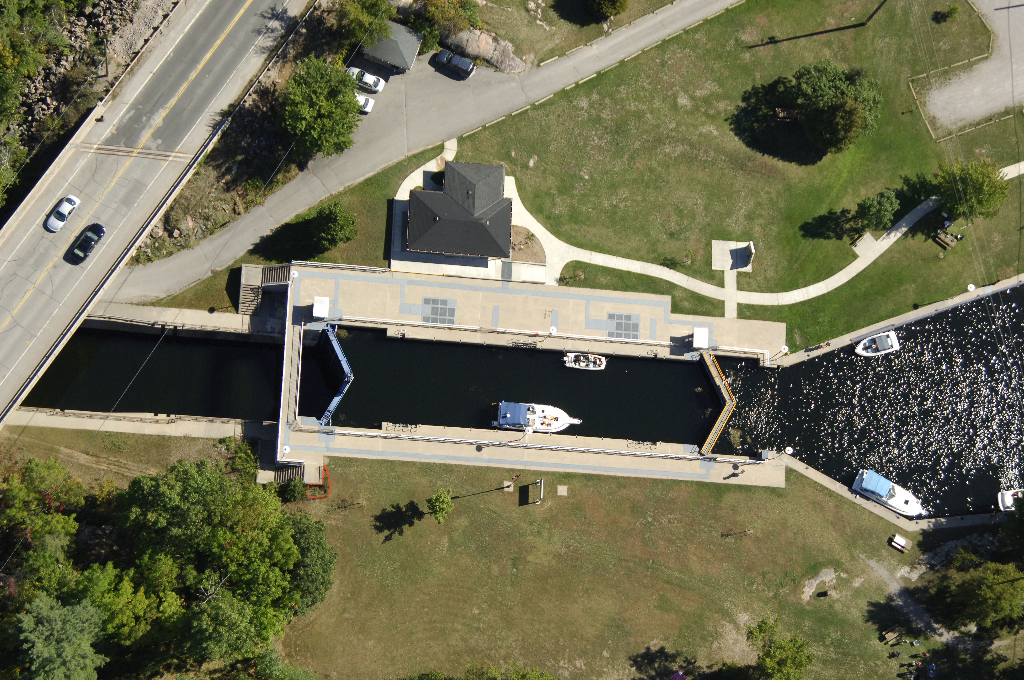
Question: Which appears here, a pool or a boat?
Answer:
boat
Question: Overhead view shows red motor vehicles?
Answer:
No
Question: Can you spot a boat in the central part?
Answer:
Yes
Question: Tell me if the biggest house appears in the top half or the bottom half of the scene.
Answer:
top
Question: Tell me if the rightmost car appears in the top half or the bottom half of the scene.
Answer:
top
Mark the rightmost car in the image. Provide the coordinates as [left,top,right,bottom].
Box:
[435,47,477,79]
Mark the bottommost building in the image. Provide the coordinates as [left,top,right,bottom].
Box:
[690,327,708,351]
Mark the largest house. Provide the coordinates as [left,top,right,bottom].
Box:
[407,161,512,258]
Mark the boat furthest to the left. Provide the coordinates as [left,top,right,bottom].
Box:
[489,400,583,431]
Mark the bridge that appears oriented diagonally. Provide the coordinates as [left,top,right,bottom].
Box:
[0,97,200,430]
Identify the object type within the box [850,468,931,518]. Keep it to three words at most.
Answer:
boat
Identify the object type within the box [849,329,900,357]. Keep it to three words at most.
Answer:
boat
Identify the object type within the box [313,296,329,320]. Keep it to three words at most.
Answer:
building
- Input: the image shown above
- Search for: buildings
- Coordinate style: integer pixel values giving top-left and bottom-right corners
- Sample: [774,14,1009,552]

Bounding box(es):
[407,161,512,258]
[313,296,329,320]
[363,24,422,74]
[690,327,708,351]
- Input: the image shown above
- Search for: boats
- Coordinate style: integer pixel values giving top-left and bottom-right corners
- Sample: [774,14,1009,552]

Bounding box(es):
[489,400,583,431]
[850,468,931,518]
[560,349,611,371]
[849,329,900,357]
[996,490,1024,512]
